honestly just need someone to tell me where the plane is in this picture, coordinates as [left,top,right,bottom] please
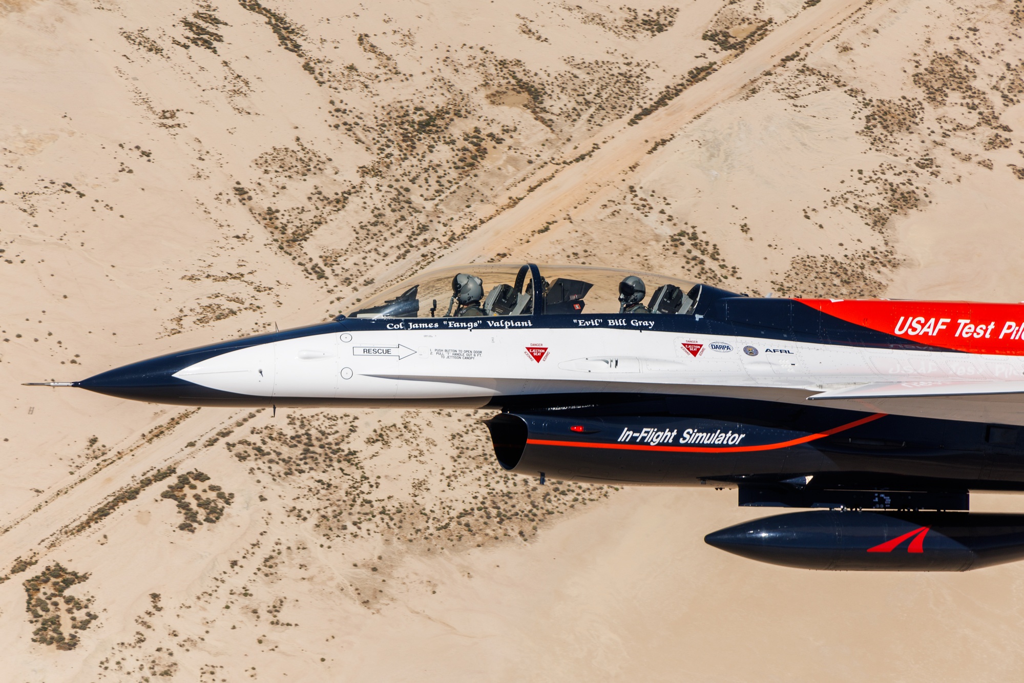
[23,262,1024,513]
